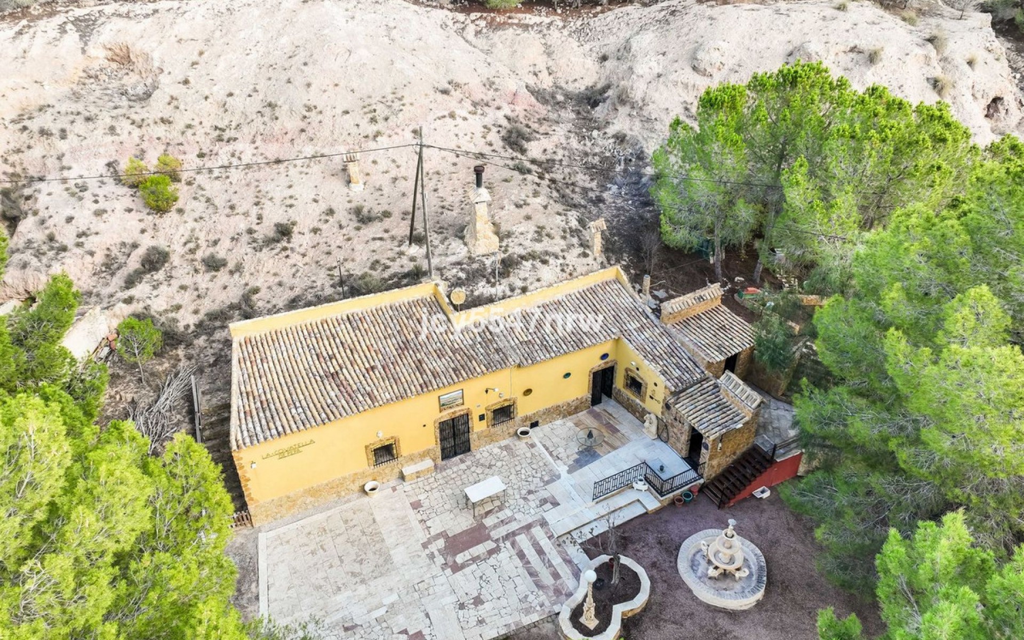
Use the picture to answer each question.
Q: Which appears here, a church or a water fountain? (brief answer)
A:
water fountain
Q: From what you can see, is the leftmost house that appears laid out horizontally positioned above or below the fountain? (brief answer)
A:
above it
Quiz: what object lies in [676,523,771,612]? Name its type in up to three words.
fountain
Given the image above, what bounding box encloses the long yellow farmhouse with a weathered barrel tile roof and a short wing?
[227,262,711,526]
